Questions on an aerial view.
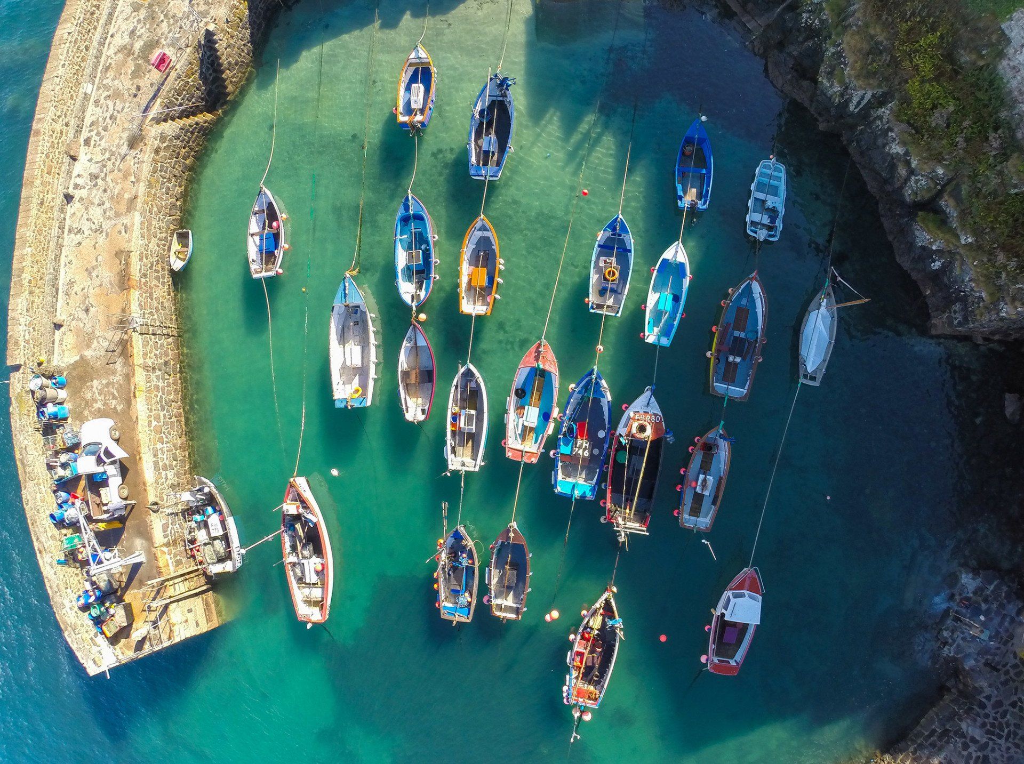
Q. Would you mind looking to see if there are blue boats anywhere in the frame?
Yes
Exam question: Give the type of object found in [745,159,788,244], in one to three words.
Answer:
boat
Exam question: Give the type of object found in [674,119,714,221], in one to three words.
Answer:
boat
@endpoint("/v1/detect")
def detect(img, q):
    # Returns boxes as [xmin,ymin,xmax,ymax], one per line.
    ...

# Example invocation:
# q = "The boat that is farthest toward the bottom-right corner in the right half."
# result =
[706,568,765,677]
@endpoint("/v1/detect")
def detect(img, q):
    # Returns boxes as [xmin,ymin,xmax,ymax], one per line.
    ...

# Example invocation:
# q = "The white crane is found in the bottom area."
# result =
[71,490,155,584]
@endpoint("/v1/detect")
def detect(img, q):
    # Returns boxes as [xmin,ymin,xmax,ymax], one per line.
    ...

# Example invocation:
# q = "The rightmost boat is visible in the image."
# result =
[794,265,871,385]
